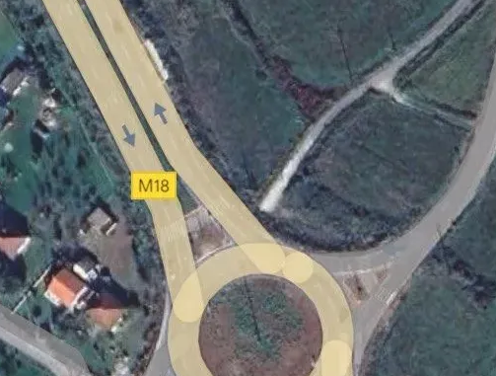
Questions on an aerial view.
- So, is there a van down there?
No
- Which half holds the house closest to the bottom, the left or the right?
left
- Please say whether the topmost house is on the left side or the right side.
left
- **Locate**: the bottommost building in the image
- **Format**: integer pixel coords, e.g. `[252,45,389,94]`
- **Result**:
[85,293,124,328]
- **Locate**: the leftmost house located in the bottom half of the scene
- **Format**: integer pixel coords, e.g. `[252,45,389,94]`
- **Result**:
[0,223,28,258]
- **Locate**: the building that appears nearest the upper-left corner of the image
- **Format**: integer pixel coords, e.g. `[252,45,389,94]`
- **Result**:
[0,66,27,95]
